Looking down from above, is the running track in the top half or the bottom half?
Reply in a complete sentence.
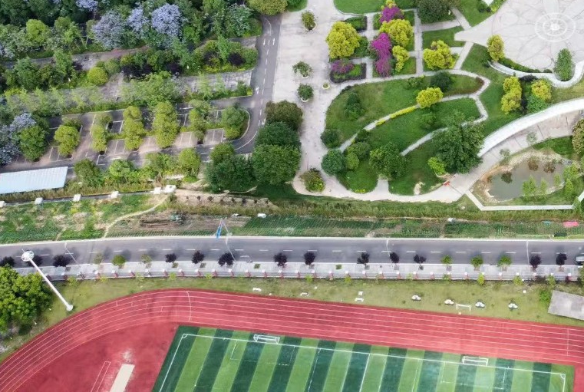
The running track is in the bottom half of the image.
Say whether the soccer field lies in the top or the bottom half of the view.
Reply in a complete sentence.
The soccer field sits in the bottom half of the picture.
